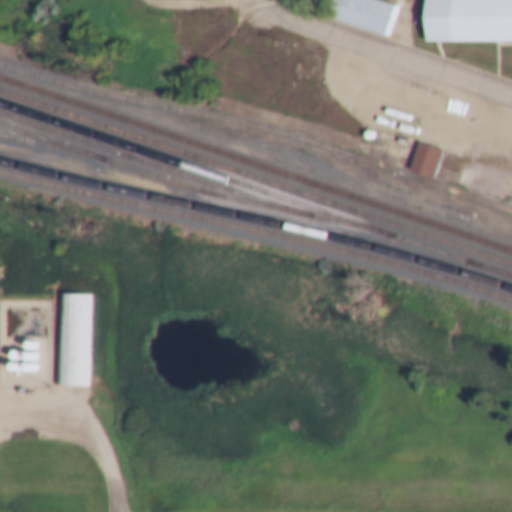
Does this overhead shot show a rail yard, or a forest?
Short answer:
rail yard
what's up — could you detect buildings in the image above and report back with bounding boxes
[410,142,444,178]
[62,294,94,386]
[424,0,512,43]
[326,0,402,37]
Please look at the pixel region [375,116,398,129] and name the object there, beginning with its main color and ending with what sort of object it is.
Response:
white vehicle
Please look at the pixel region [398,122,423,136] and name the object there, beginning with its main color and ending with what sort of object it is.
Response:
white vehicle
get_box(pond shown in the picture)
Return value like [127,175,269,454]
[150,316,262,392]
